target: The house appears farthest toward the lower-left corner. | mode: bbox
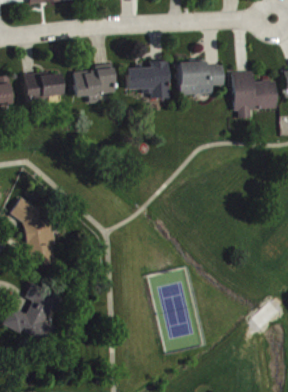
[0,289,50,336]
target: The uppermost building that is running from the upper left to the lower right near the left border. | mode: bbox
[5,194,55,263]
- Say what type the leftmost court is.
tennis court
